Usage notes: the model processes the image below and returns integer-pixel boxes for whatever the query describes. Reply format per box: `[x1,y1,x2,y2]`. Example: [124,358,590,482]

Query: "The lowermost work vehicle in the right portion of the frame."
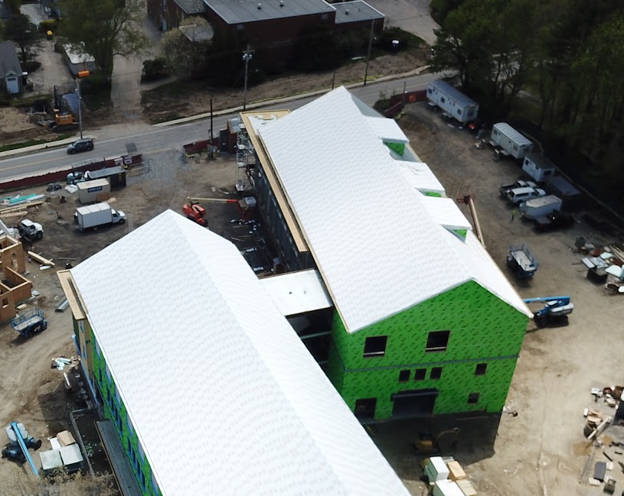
[420,415,463,457]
